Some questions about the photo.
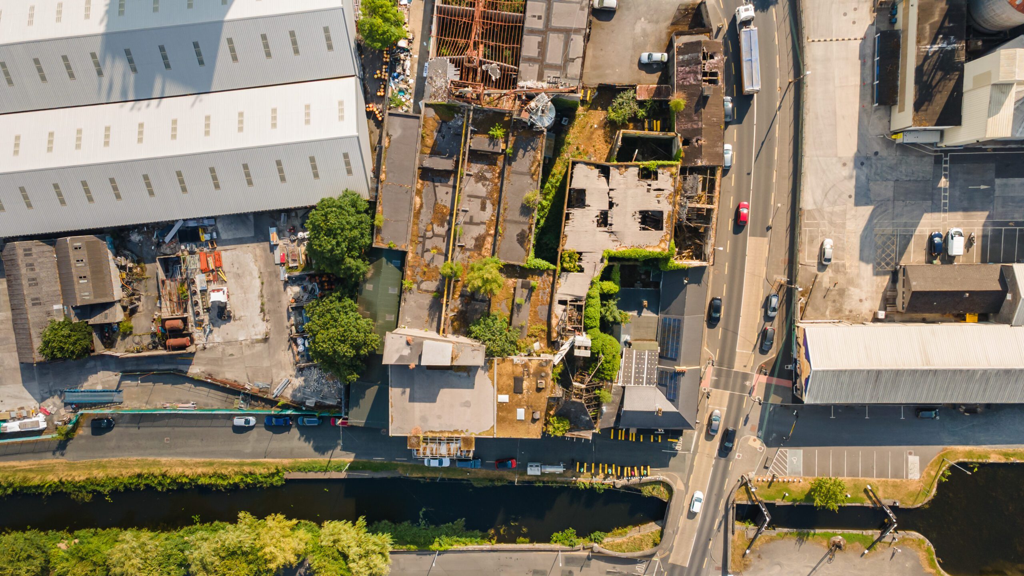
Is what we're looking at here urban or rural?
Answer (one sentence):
This place is urban.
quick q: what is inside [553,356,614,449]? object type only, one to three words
house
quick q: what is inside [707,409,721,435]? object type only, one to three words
car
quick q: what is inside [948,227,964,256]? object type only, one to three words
vehicle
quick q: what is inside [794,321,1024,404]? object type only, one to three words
shed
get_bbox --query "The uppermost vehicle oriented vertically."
[734,0,761,95]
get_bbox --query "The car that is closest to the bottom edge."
[689,490,704,515]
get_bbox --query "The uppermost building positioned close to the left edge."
[0,0,372,240]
